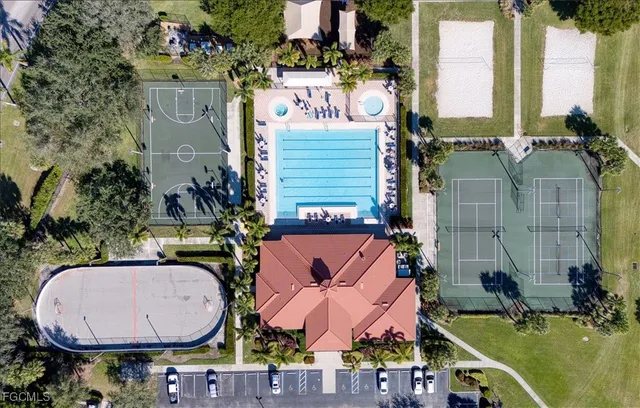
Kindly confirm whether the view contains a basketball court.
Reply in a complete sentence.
Yes, I can see a basketball court in this picture.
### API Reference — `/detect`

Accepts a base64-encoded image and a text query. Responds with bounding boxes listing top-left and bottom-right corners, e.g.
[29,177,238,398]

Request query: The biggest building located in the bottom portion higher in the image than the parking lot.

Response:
[256,235,416,351]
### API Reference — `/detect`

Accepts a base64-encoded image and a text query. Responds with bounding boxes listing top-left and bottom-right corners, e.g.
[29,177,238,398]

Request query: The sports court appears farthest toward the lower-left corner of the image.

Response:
[34,264,226,351]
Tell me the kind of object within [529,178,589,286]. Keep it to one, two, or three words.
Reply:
tennis court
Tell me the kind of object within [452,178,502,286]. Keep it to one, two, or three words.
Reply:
tennis court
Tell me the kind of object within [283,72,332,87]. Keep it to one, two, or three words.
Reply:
building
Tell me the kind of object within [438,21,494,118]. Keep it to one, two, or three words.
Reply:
sports court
